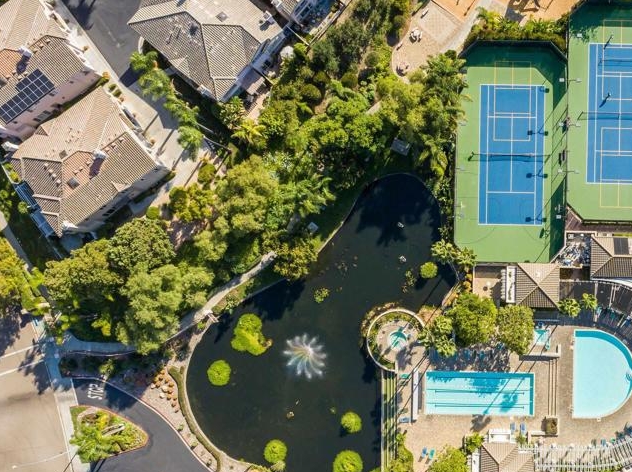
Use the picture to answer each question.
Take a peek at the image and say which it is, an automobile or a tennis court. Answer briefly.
tennis court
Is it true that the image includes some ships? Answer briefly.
No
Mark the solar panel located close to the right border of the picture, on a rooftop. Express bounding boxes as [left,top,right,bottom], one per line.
[614,238,629,255]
